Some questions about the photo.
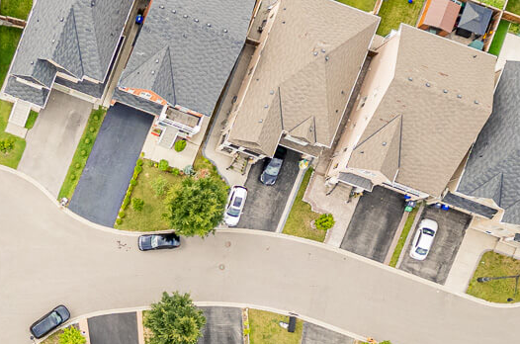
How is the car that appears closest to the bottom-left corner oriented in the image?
at an angle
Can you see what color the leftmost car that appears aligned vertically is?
white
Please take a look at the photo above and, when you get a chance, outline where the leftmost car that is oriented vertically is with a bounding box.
[224,184,248,227]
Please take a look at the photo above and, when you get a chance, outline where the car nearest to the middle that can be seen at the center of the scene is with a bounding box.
[261,149,287,186]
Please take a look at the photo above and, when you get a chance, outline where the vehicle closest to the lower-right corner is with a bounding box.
[409,217,437,261]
